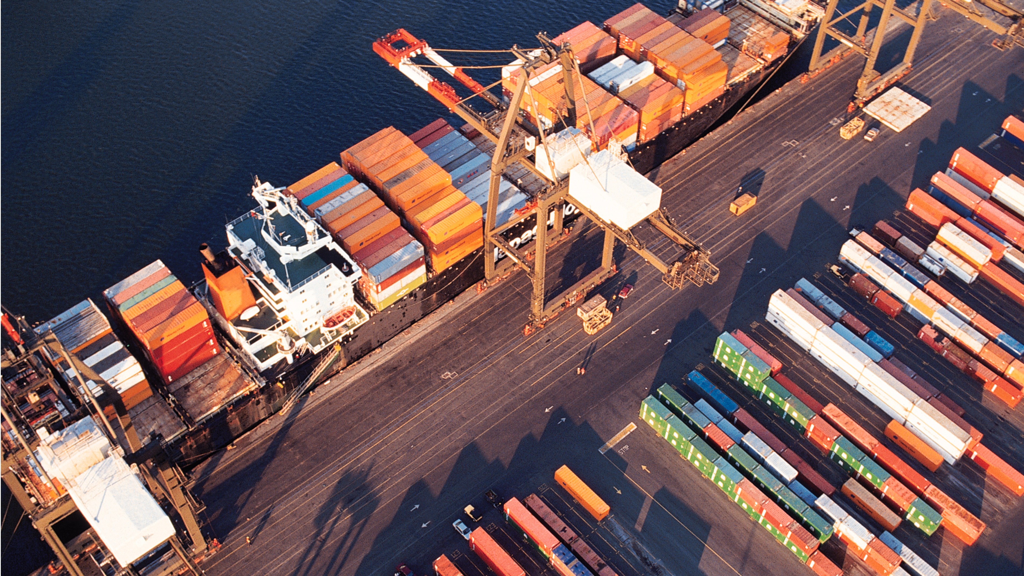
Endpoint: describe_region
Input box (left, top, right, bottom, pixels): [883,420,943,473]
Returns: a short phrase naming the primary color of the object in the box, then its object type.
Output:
orange shipping container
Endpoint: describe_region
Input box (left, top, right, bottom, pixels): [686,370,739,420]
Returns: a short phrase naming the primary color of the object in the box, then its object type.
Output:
blue shipping container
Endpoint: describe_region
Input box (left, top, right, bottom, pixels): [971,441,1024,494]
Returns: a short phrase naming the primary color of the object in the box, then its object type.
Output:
red shipping container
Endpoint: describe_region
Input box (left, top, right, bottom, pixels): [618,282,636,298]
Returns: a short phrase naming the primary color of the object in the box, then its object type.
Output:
red car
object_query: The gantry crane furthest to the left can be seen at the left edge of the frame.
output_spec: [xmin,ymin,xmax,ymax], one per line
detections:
[0,290,224,576]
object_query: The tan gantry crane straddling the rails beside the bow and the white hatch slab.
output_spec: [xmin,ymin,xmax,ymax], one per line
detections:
[794,0,1024,118]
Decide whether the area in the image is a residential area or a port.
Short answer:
port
